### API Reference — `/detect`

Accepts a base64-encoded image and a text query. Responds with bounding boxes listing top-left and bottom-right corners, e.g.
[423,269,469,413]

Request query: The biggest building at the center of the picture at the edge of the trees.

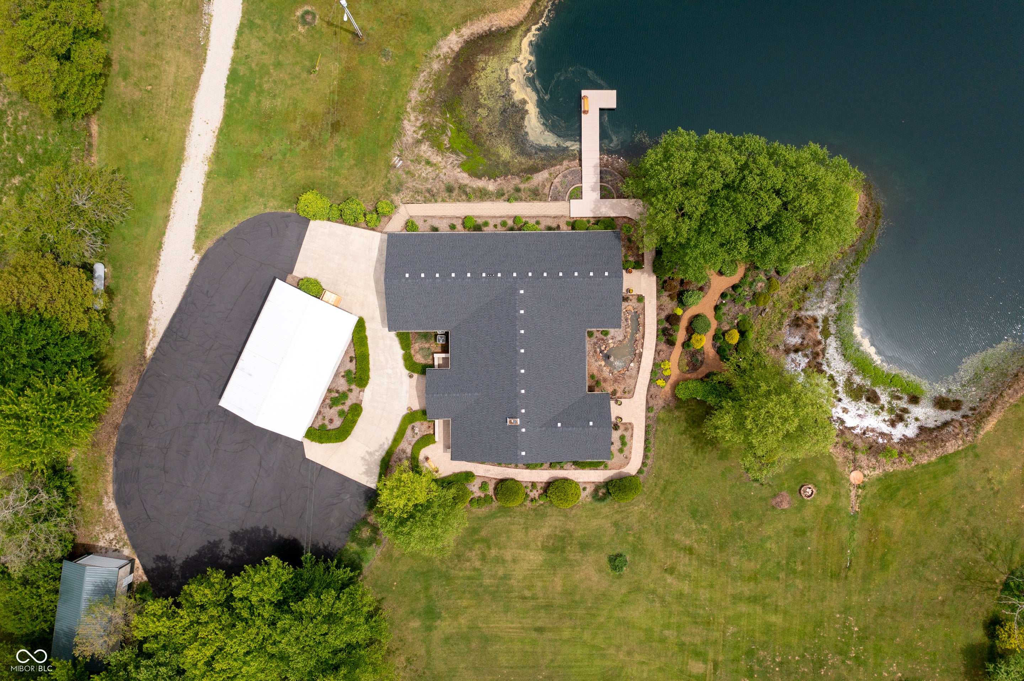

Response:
[384,229,623,464]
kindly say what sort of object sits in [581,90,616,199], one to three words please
pier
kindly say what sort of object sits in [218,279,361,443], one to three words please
building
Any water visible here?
Yes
